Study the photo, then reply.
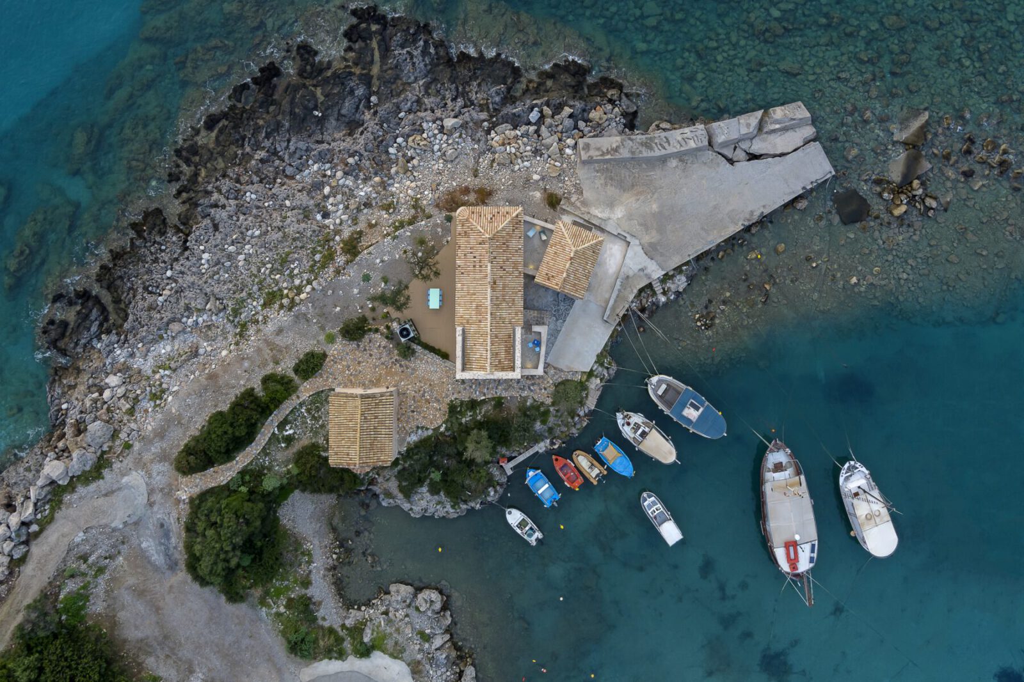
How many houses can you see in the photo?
3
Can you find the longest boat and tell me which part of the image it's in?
bottom right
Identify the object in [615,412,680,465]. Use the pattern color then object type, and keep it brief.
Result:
white boat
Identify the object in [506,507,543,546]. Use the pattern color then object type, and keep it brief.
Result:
white boat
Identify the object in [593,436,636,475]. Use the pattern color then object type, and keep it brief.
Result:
blue boat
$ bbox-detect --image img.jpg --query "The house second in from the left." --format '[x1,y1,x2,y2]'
[453,204,526,380]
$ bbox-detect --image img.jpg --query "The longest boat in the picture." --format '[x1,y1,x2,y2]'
[758,438,817,607]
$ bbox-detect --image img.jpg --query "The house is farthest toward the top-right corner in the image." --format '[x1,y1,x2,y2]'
[532,219,606,300]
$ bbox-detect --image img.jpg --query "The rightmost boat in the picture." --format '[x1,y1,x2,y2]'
[836,460,902,558]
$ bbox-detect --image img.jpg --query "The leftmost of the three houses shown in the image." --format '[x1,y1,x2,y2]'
[326,387,400,473]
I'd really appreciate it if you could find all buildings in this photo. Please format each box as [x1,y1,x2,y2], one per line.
[453,204,526,380]
[326,387,400,473]
[532,219,606,300]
